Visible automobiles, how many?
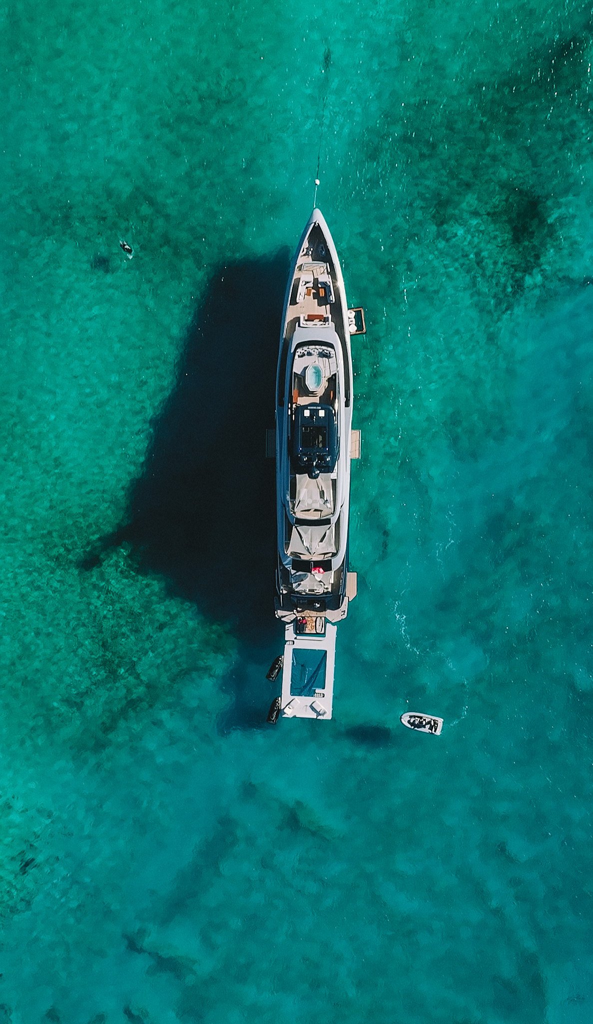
0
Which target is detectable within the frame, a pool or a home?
pool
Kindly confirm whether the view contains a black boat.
Yes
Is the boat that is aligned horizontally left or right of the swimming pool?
on the right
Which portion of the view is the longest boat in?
center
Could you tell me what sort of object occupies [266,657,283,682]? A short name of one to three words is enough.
boat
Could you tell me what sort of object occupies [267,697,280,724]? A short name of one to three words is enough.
boat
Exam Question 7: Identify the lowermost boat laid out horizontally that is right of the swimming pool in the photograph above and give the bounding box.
[401,714,444,735]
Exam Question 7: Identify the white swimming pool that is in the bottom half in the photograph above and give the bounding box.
[281,623,338,721]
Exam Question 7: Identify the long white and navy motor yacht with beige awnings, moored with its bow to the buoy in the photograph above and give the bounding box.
[266,205,366,623]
